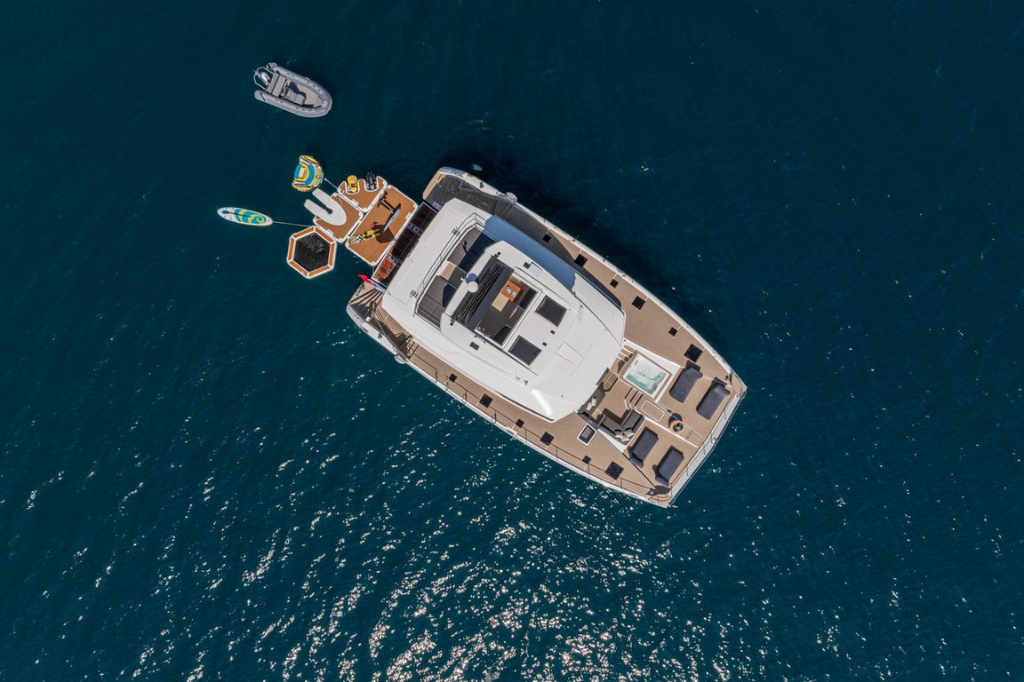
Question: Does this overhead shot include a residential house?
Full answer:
No, I can't see a single residential house in this photo.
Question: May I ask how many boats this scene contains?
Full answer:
The count of boats comes to 2.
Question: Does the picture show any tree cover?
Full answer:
No, there is no tree cover in the image.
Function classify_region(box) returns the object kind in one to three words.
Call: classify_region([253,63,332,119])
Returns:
boat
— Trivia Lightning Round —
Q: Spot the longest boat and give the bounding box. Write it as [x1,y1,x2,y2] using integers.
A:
[350,168,749,507]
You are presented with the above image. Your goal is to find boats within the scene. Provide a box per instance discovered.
[350,168,749,507]
[253,63,332,119]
